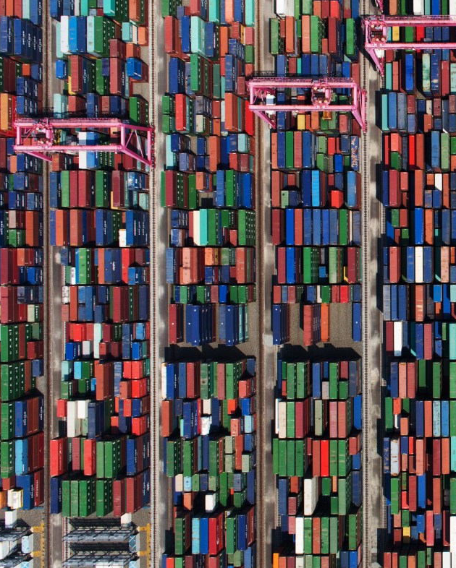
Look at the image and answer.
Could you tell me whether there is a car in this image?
No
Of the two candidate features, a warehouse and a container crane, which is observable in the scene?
container crane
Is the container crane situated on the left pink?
Yes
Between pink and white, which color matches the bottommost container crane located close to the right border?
pink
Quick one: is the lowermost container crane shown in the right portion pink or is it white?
pink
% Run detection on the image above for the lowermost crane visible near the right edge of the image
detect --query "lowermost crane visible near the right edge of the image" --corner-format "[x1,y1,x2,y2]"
[362,13,456,73]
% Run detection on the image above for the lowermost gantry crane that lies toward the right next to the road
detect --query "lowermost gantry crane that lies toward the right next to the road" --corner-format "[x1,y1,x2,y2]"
[247,73,364,129]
